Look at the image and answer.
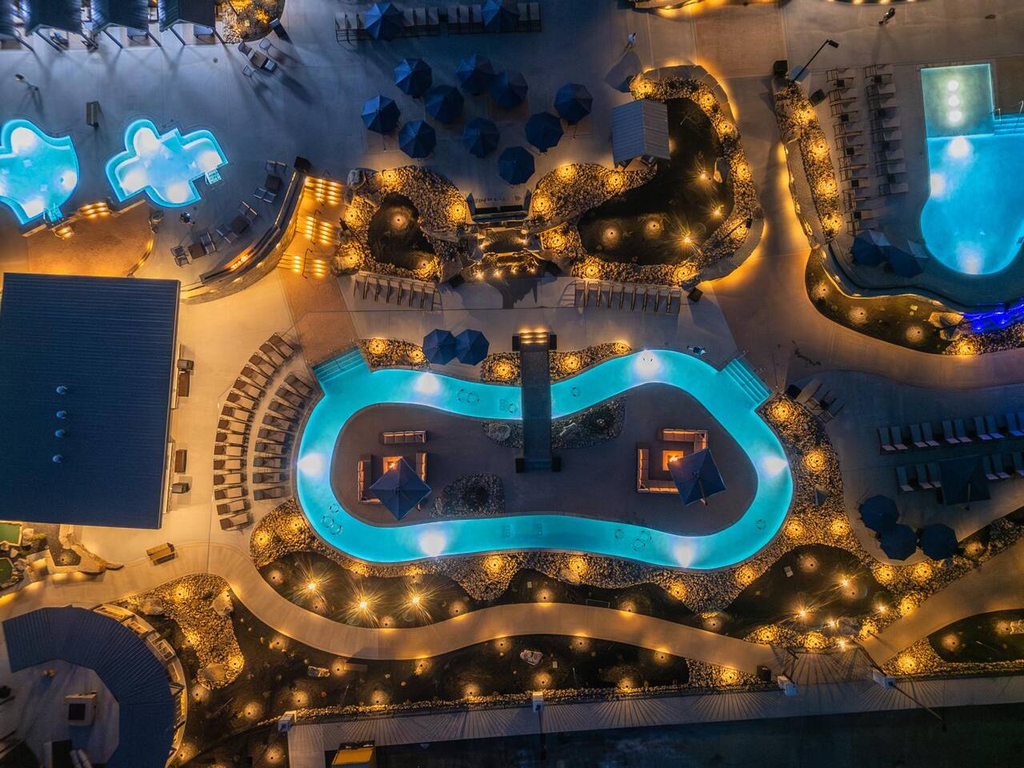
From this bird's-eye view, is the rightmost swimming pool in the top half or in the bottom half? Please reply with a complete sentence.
The top half of the photo is where the rightmost swimming pool is.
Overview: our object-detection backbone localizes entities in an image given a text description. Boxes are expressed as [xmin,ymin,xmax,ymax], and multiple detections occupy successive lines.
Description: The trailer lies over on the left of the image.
[331,739,377,768]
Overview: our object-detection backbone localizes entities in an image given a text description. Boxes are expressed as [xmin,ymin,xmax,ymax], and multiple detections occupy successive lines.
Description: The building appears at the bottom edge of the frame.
[2,598,196,768]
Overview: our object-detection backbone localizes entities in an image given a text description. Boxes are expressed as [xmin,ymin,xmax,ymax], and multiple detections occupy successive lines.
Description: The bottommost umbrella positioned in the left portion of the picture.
[369,457,432,521]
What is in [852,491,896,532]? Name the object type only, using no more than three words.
umbrella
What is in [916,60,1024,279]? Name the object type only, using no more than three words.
swimming pool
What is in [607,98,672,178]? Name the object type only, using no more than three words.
shed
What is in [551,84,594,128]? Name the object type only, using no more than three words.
umbrella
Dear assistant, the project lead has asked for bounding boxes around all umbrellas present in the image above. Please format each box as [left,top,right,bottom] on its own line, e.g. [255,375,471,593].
[843,231,885,271]
[551,84,594,128]
[669,449,726,514]
[910,520,954,560]
[420,328,456,368]
[523,113,565,155]
[425,87,466,128]
[488,72,528,113]
[362,2,405,48]
[875,239,924,283]
[453,326,494,367]
[395,59,435,100]
[852,491,896,532]
[360,95,403,138]
[369,457,432,521]
[455,56,495,97]
[496,146,538,189]
[462,120,502,161]
[397,120,440,164]
[870,519,915,560]
[939,455,991,516]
